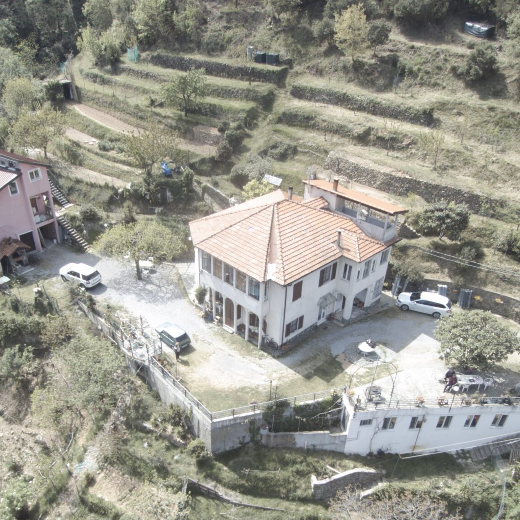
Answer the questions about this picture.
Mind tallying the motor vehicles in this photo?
3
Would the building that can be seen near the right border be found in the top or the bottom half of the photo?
bottom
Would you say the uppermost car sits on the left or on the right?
left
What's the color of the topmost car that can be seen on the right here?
white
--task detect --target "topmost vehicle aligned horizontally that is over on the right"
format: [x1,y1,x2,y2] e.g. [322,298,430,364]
[394,291,454,319]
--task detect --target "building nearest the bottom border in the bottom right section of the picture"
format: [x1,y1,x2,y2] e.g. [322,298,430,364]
[340,390,520,453]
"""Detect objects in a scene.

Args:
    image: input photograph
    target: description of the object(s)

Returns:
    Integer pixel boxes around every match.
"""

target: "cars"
[57,261,104,289]
[155,317,193,349]
[394,291,454,319]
